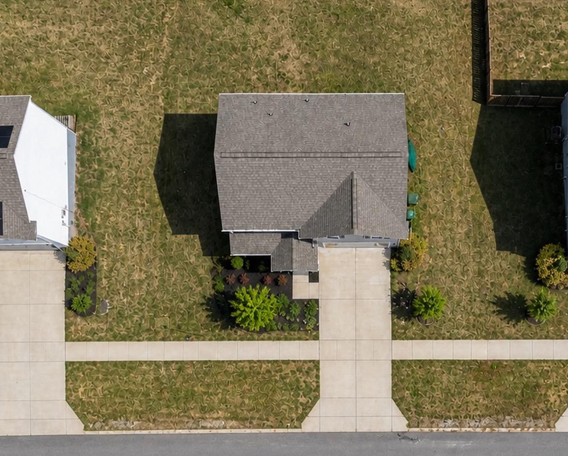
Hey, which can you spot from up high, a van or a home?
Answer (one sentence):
I can see a home in this picture.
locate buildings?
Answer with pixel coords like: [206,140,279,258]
[0,95,73,253]
[213,92,410,271]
